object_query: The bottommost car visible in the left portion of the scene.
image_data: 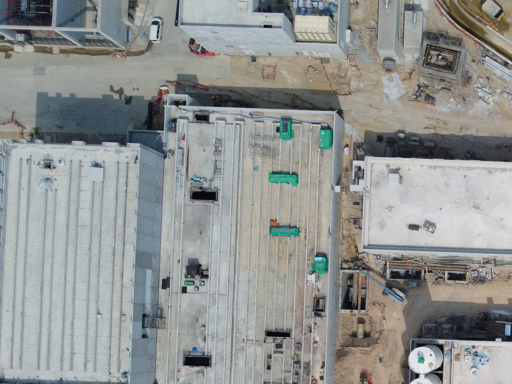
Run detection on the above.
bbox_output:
[151,18,165,45]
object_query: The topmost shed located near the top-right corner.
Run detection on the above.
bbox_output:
[481,0,505,27]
